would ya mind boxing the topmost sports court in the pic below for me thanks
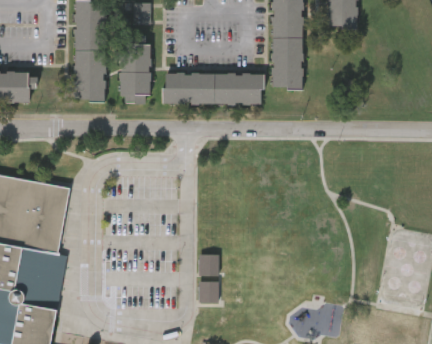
[376,229,432,317]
